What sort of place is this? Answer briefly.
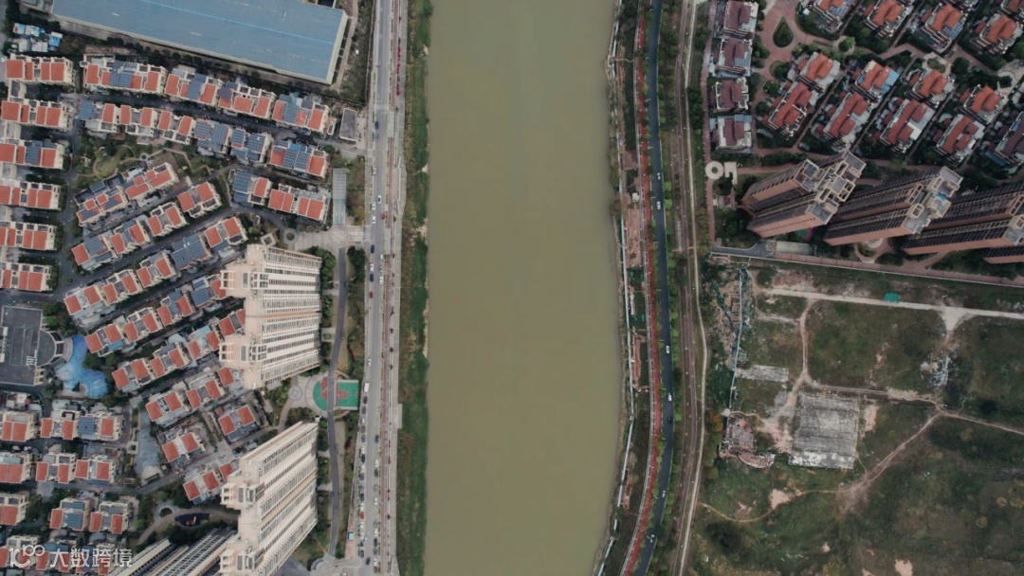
residential area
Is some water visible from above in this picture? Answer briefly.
Yes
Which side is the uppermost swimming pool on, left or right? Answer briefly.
left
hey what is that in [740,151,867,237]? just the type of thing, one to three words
building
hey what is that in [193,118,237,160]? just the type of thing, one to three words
house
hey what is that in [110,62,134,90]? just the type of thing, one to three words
solar panel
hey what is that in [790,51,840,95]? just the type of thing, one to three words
house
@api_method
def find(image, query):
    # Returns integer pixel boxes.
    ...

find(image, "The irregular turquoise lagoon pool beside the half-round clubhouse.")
[55,333,109,400]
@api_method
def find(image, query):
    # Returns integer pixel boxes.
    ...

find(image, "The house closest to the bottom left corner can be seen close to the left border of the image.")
[0,531,45,568]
